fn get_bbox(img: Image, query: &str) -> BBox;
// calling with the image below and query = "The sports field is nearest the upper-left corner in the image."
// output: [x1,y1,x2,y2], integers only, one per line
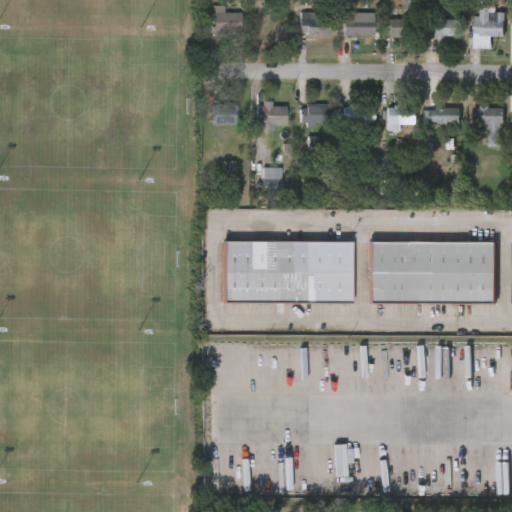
[0,34,181,172]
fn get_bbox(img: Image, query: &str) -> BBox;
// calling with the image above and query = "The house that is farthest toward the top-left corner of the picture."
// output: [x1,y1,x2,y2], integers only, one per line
[214,6,244,36]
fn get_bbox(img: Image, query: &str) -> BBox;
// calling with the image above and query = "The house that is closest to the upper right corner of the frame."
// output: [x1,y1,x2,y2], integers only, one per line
[472,7,505,49]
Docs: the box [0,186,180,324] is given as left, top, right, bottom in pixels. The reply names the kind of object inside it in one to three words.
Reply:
sports field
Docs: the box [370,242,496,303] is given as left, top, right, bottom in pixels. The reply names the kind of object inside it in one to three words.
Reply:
building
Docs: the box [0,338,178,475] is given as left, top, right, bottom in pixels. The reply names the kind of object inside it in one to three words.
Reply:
sports field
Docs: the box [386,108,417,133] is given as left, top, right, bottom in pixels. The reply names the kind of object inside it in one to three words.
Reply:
house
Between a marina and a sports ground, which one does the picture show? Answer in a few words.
sports ground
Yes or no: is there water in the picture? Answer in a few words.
No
